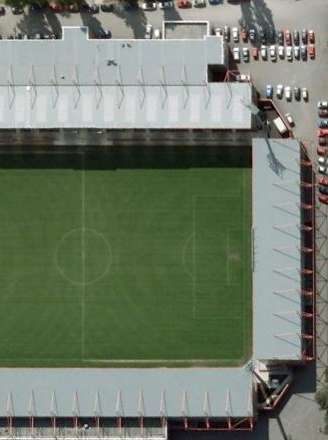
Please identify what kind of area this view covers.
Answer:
sports ground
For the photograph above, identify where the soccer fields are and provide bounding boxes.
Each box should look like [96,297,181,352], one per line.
[0,146,253,368]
